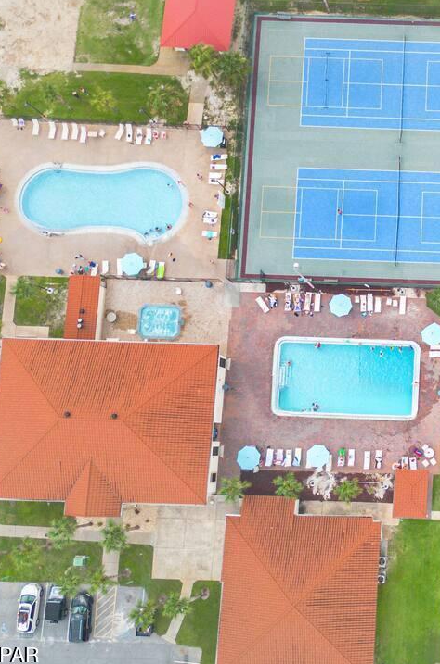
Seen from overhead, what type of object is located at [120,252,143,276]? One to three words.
umbrella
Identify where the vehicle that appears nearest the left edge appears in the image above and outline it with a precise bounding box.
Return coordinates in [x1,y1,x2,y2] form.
[15,582,46,635]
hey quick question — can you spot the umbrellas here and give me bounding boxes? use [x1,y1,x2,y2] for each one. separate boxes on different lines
[329,293,352,315]
[306,444,330,468]
[202,124,225,146]
[420,321,440,344]
[120,252,143,276]
[236,444,260,469]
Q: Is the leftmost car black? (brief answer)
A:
No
